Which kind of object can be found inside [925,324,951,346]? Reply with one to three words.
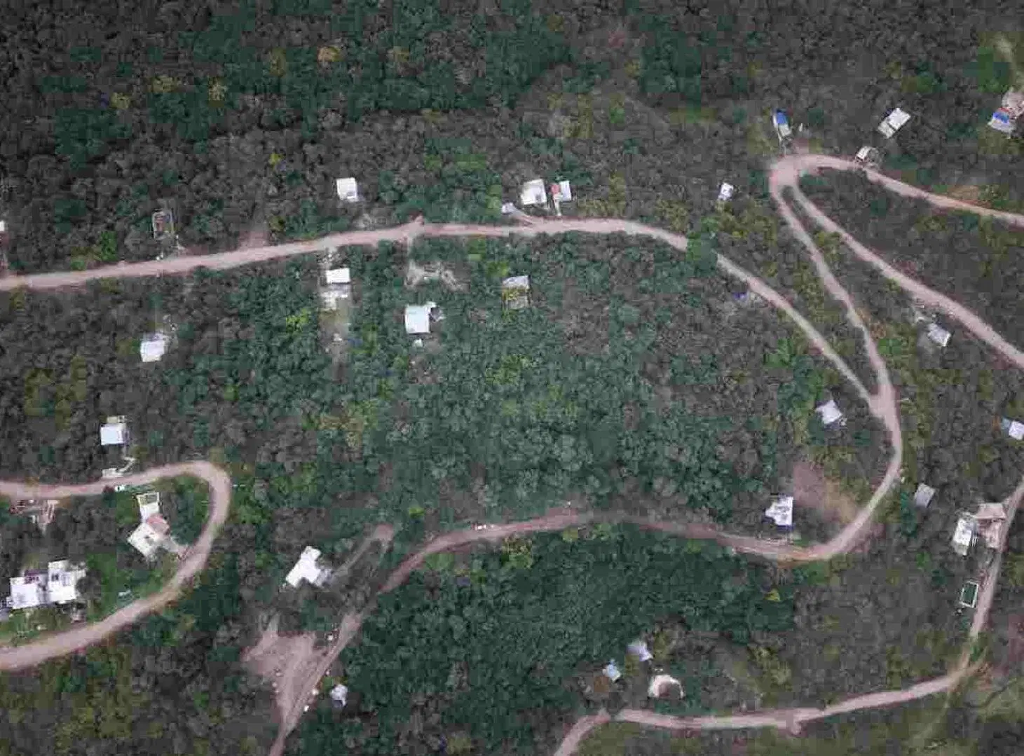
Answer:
house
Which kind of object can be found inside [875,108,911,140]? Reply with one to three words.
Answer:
house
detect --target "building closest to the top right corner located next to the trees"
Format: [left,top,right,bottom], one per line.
[985,89,1024,135]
